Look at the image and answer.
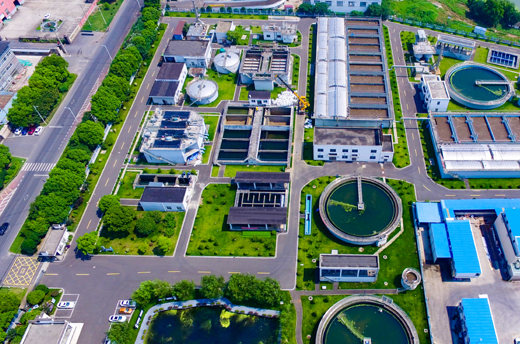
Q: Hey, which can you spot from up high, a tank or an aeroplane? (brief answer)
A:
tank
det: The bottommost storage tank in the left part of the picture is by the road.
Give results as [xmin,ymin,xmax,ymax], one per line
[187,72,221,109]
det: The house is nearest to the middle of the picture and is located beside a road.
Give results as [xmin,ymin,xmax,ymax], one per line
[228,172,290,230]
